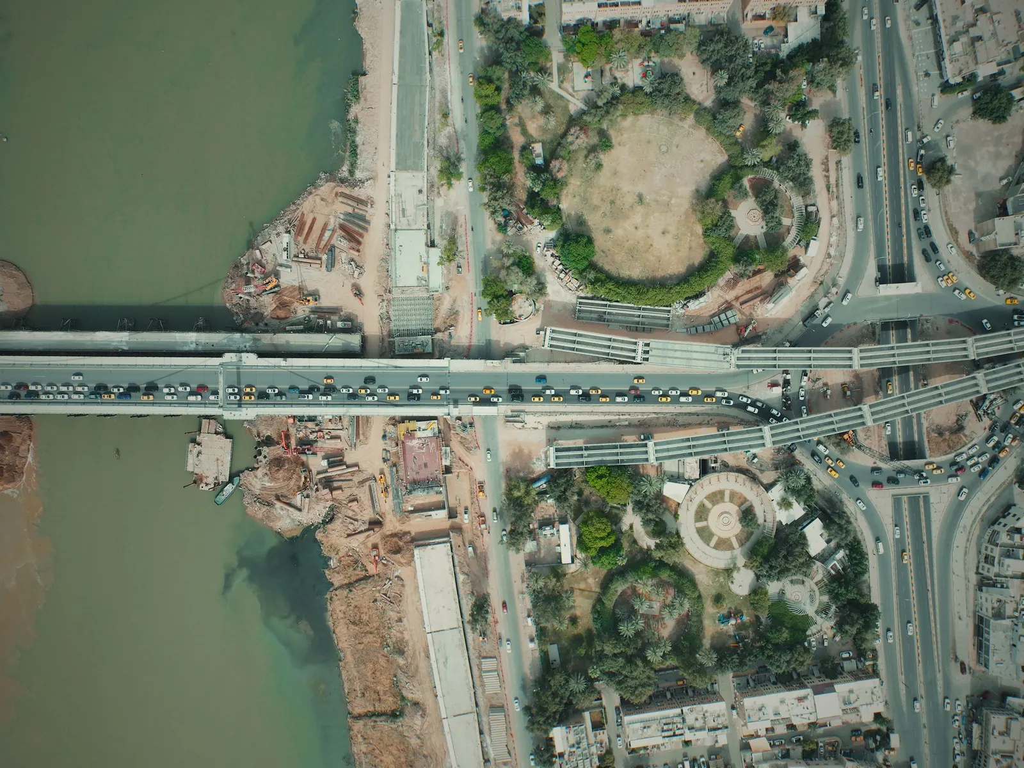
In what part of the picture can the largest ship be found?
left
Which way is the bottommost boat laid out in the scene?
on a diagonal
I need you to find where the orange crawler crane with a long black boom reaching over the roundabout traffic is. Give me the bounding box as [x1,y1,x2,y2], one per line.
[841,430,921,478]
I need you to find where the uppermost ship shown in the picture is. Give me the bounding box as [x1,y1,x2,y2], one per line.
[184,419,234,489]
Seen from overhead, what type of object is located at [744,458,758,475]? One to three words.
vehicle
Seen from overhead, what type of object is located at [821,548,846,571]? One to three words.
shed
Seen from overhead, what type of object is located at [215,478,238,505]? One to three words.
boat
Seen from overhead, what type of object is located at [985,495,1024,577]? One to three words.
building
